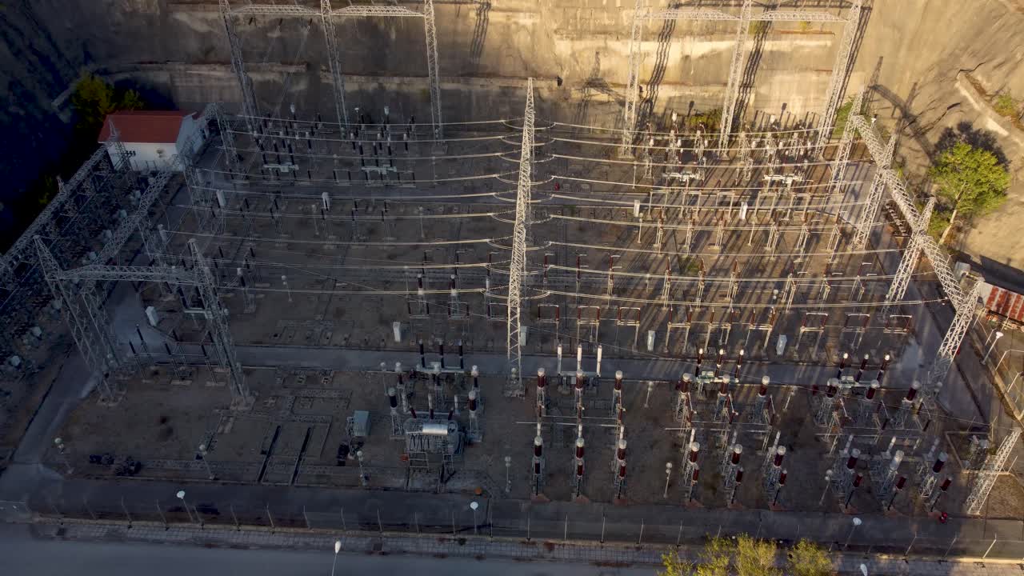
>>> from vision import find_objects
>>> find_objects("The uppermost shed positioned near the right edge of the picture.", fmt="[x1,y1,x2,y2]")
[960,282,1024,348]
